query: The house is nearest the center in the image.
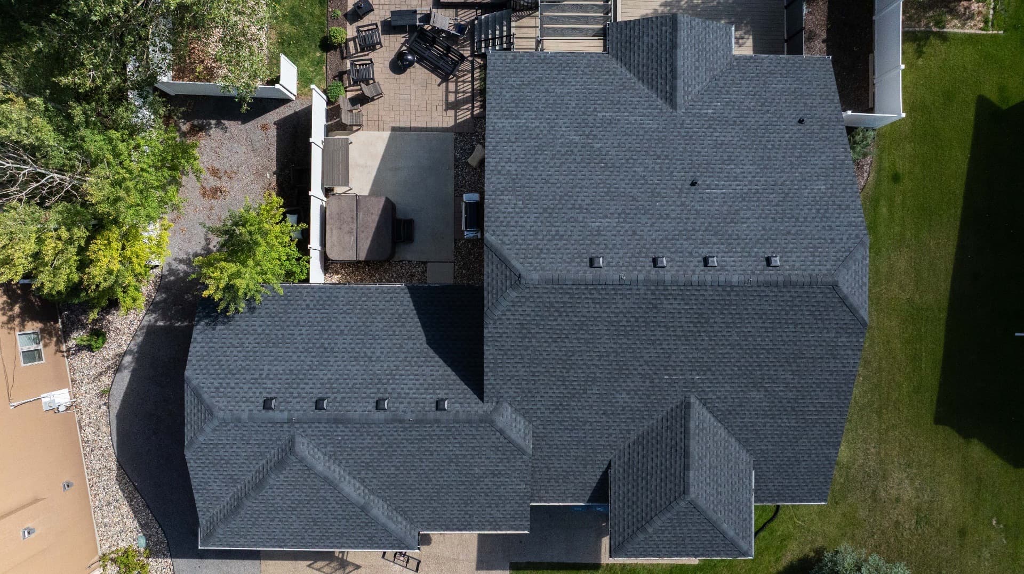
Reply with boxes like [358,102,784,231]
[180,13,872,562]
